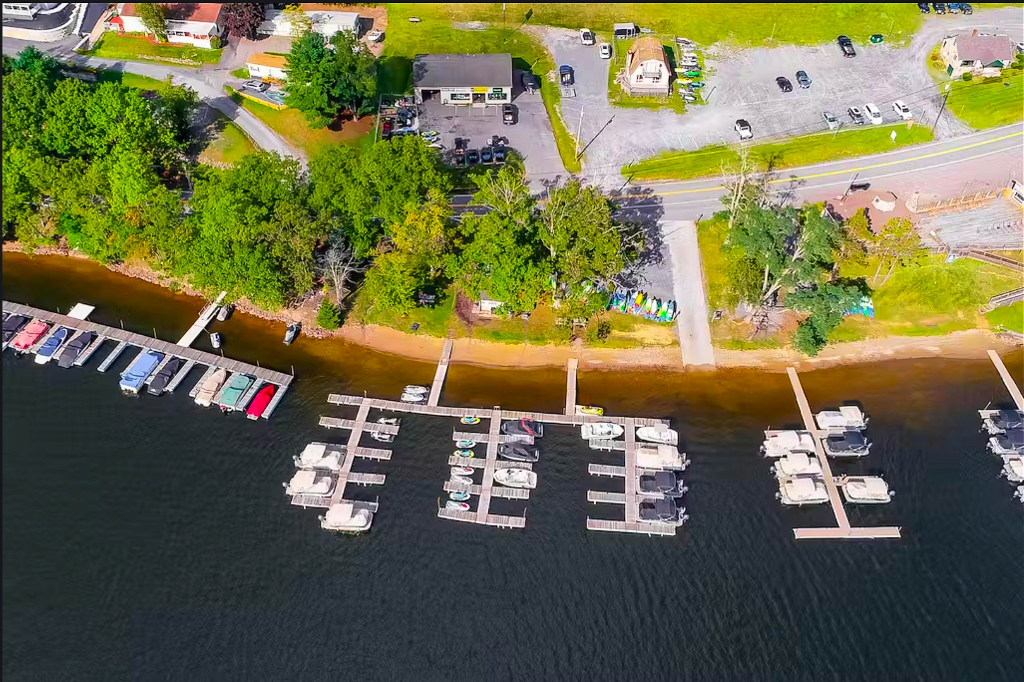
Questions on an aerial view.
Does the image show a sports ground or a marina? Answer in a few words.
marina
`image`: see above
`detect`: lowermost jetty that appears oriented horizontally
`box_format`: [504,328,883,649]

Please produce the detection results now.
[290,391,676,537]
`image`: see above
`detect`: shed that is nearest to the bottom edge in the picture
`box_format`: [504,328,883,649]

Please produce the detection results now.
[477,288,504,319]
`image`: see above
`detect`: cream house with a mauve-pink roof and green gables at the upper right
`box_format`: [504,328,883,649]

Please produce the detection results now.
[932,28,1021,81]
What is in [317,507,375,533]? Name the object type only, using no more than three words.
boat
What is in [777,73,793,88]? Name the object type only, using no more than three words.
car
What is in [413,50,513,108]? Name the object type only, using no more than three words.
building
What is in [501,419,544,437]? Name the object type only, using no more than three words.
boat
